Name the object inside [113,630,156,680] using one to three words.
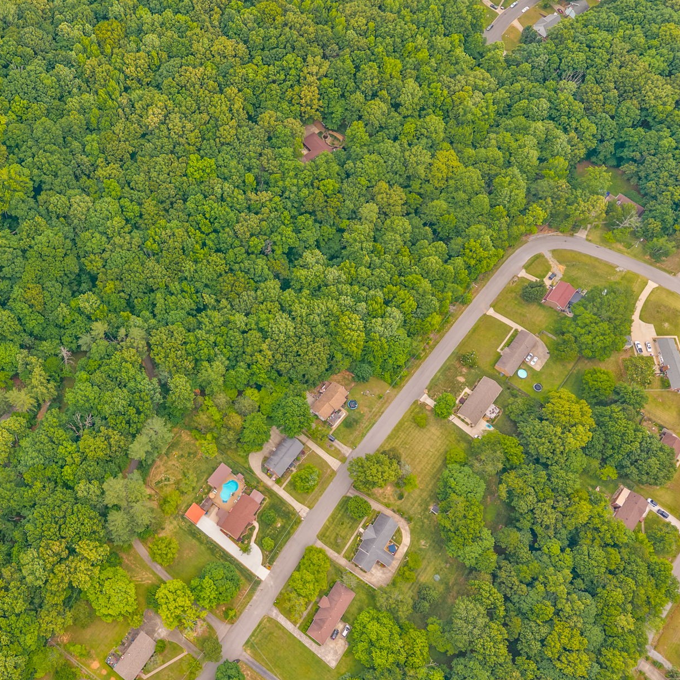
house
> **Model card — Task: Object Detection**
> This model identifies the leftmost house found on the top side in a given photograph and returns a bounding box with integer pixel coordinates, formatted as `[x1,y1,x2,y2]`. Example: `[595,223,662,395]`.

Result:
[301,133,332,164]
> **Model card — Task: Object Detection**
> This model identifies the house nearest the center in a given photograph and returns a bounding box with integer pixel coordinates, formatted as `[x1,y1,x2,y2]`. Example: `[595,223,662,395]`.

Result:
[310,383,349,420]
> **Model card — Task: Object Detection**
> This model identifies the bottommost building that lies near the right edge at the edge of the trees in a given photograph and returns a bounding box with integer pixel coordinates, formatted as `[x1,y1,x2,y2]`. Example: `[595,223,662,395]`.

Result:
[612,487,649,527]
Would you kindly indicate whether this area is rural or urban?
rural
